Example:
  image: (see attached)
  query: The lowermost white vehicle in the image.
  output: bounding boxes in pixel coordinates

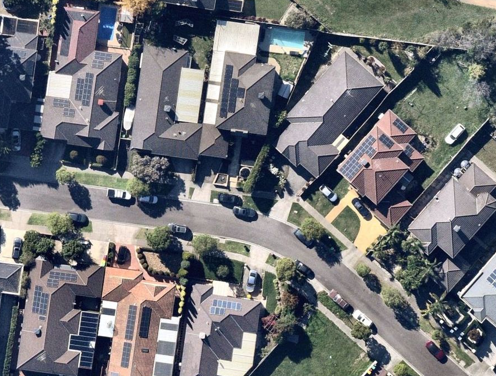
[353,309,374,328]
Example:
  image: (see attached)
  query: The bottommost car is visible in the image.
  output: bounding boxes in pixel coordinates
[426,343,445,362]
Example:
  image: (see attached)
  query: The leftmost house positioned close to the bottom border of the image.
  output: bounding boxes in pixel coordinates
[17,256,106,376]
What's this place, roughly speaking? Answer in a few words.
residential area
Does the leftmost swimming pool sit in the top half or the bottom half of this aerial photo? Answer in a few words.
top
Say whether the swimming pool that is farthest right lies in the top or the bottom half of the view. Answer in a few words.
top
